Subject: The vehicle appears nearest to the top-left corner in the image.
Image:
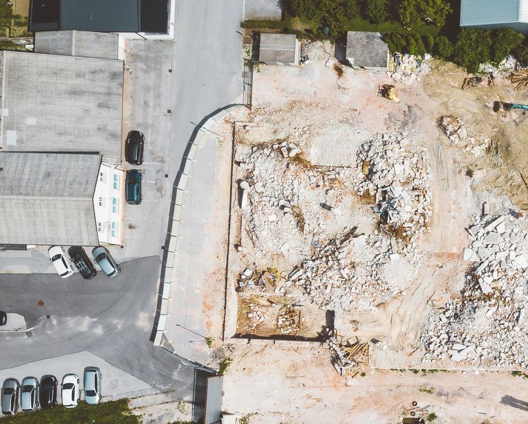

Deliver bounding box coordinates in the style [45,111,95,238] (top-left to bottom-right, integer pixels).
[124,130,145,165]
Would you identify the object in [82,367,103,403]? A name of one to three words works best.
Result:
car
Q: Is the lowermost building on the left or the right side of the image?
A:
left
